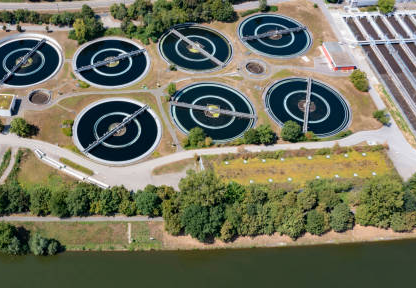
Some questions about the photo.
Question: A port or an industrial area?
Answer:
industrial area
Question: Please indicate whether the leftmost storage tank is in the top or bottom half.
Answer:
top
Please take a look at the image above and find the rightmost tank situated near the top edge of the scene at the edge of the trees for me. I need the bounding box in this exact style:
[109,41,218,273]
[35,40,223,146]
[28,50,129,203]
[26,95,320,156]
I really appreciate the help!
[235,11,314,60]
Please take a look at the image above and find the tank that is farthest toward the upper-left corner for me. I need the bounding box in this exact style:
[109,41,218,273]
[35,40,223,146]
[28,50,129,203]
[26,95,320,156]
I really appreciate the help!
[0,33,67,91]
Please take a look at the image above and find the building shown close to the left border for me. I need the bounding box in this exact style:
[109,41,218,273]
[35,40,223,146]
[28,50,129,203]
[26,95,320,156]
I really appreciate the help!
[0,94,16,117]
